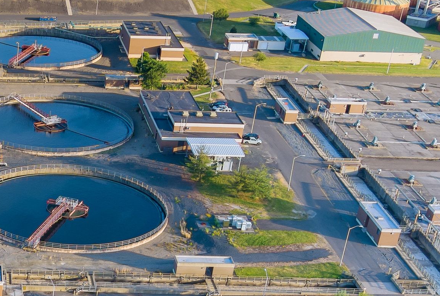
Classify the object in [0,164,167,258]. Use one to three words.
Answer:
storage tank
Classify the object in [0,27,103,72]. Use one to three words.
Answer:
storage tank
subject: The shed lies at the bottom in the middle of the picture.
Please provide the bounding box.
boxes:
[173,252,236,276]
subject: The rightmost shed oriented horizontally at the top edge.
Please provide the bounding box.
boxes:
[306,6,426,63]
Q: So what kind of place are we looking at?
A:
industrial area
